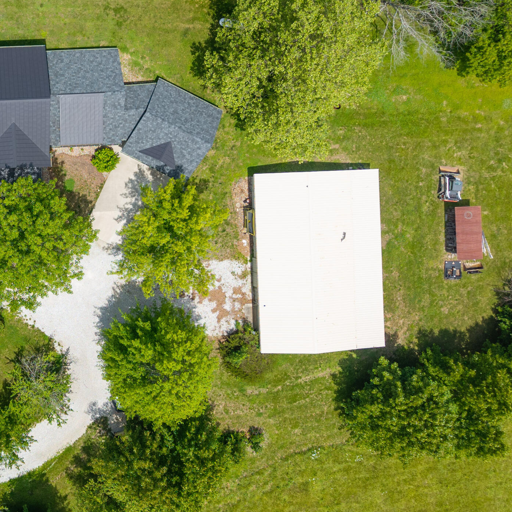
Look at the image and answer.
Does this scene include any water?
No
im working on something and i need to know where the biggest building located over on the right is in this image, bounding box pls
[246,169,386,355]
